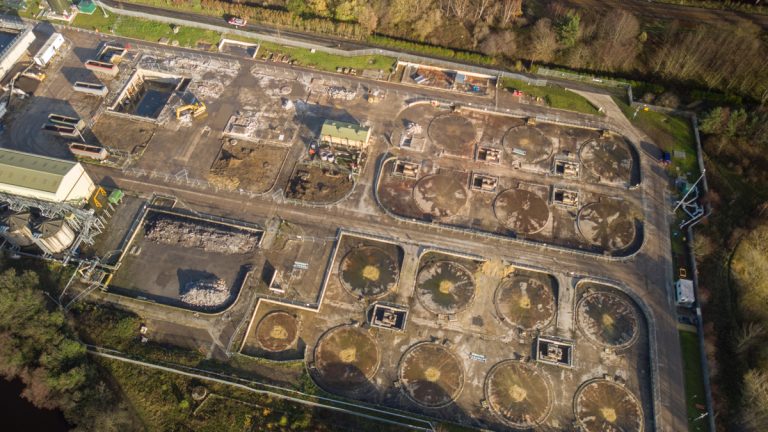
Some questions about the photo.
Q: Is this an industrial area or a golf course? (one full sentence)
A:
It's an industrial area.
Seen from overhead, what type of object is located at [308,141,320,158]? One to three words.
vehicle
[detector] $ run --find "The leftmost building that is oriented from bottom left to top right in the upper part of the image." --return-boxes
[31,31,67,68]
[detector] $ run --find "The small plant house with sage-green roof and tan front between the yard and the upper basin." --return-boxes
[321,119,374,153]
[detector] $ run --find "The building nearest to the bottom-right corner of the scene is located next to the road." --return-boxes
[675,281,699,312]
